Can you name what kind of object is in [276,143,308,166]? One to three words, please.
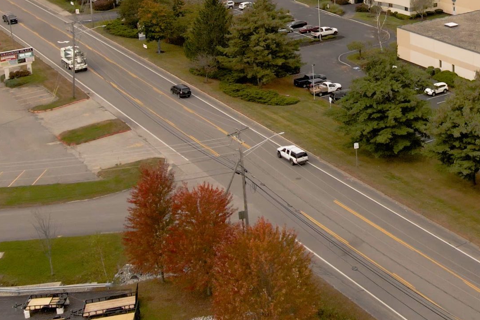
car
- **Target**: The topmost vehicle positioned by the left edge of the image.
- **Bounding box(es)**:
[2,11,18,23]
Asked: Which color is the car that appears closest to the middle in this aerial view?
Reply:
white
